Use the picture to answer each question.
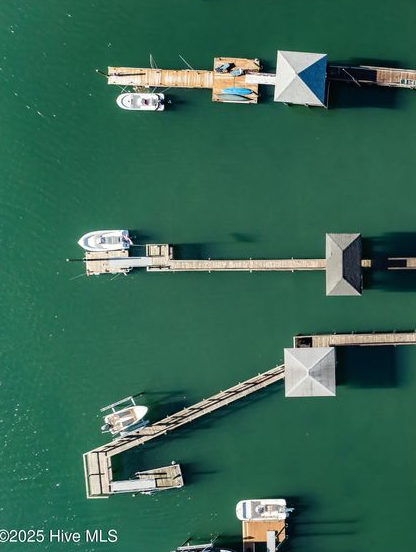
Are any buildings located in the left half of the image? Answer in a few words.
No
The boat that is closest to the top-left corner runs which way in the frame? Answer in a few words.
from left to right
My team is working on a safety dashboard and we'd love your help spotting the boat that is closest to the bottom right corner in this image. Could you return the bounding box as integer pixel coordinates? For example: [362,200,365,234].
[237,498,302,520]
